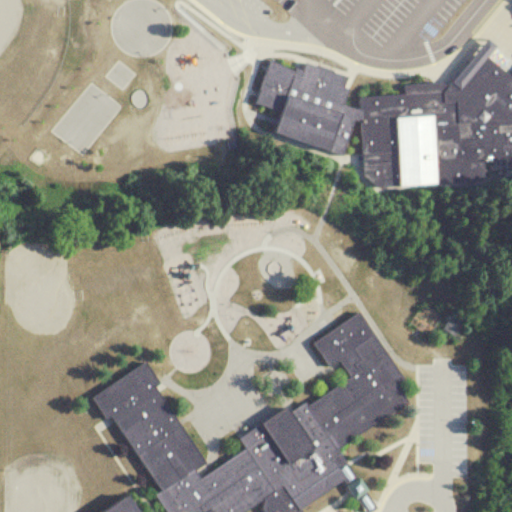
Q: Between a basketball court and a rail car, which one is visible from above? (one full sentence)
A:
It is a basketball court that can be seen here.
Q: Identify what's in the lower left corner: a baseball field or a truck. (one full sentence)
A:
What appears in the lower left corner is a baseball field.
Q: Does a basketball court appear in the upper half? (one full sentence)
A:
Yes, a basketball court shows up in the upper half.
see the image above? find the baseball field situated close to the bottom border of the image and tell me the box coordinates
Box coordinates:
[4,454,82,512]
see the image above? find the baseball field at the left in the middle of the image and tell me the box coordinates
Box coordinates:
[4,244,75,336]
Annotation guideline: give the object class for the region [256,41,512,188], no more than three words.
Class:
building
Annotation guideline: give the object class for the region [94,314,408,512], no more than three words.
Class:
building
